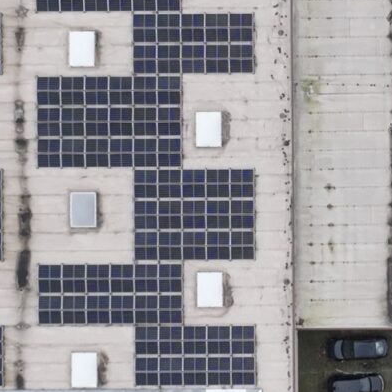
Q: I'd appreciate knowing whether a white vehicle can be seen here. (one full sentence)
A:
No, there appears to be no white vehicle in this shot.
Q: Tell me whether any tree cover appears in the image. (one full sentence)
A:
No, no tree cover is visible.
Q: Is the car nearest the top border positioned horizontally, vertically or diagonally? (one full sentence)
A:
From this overhead view, the car nearest the top border appears to run horizontally.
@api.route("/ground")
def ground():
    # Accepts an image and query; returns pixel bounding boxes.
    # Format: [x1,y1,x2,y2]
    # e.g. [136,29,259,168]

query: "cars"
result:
[328,372,385,392]
[328,336,389,363]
